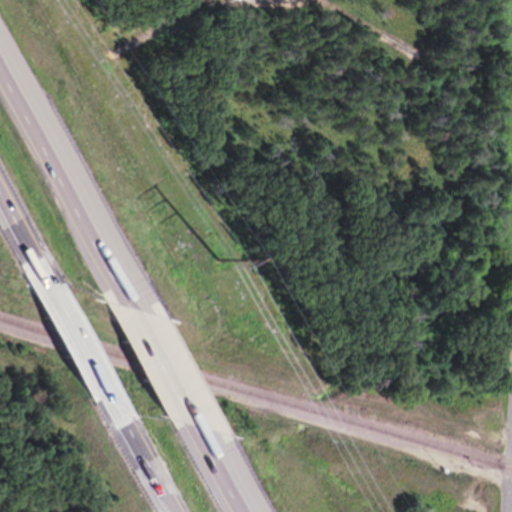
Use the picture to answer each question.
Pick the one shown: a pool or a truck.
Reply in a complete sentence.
Looking from above, you can make out a truck.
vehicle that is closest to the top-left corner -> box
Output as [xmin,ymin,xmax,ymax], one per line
[44,160,56,178]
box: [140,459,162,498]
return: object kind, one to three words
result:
truck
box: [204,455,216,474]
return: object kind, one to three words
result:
vehicle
